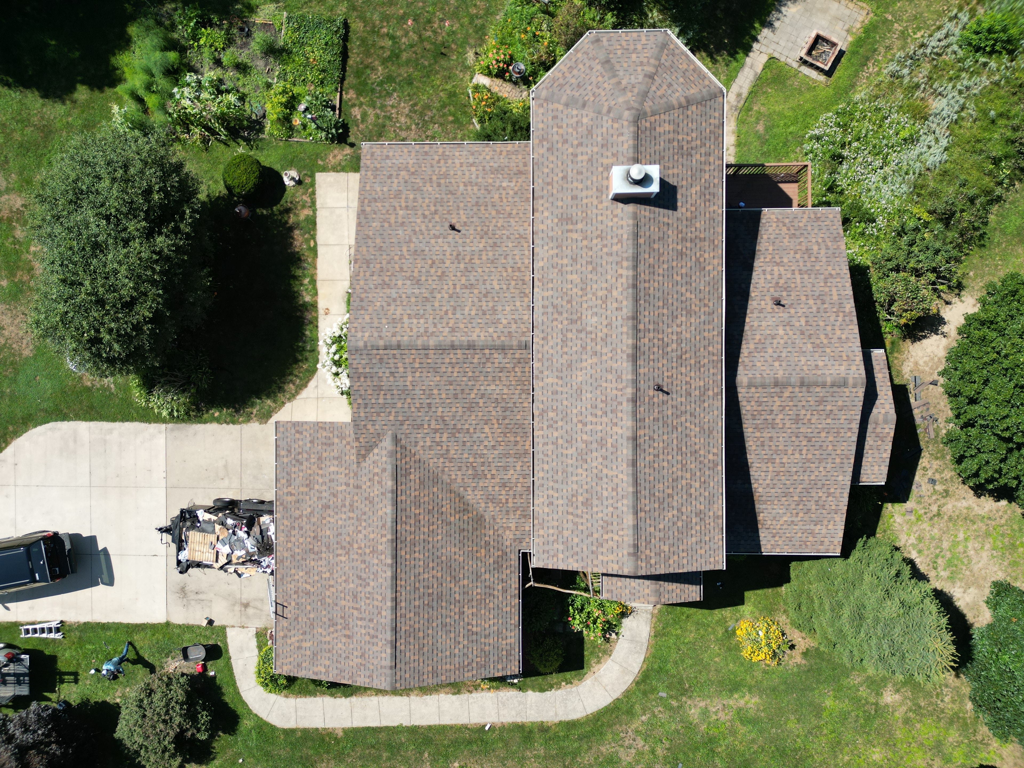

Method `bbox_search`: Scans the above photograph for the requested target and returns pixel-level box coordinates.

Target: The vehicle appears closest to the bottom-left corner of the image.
[0,640,30,704]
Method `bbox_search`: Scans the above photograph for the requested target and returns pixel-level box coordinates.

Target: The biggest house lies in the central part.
[273,29,897,689]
